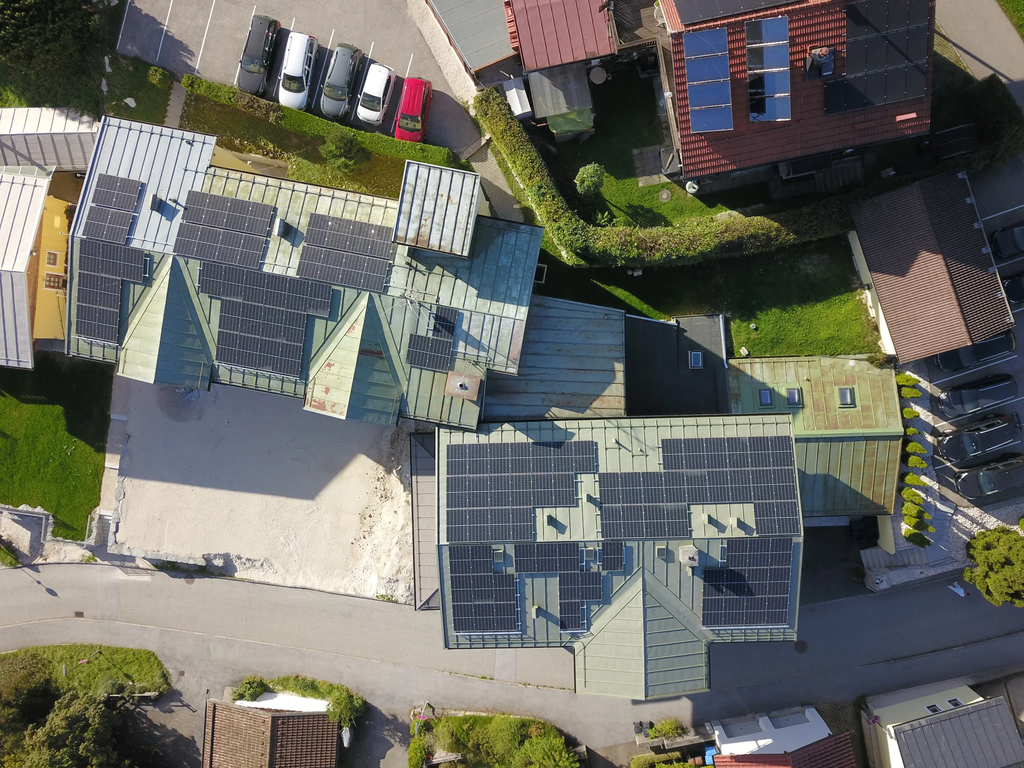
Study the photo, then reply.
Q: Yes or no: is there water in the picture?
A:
No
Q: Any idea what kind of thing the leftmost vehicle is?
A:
automobile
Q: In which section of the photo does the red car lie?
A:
top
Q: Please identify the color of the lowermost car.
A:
black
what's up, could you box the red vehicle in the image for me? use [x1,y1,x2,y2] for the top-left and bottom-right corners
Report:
[390,64,436,141]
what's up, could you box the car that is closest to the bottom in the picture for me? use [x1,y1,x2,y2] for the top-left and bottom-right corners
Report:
[952,449,1024,499]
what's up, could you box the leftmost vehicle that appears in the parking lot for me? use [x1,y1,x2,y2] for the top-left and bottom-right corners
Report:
[232,12,283,96]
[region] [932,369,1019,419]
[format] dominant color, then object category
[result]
black car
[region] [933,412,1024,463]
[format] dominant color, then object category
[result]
black car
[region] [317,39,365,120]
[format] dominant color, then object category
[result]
gray car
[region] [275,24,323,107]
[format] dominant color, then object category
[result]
white car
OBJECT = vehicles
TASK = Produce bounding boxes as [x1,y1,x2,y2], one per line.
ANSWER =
[275,24,323,107]
[932,328,1019,378]
[932,369,1019,419]
[952,449,1024,499]
[1002,271,1024,305]
[232,12,283,96]
[317,39,365,120]
[390,64,436,141]
[933,412,1024,463]
[355,54,398,126]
